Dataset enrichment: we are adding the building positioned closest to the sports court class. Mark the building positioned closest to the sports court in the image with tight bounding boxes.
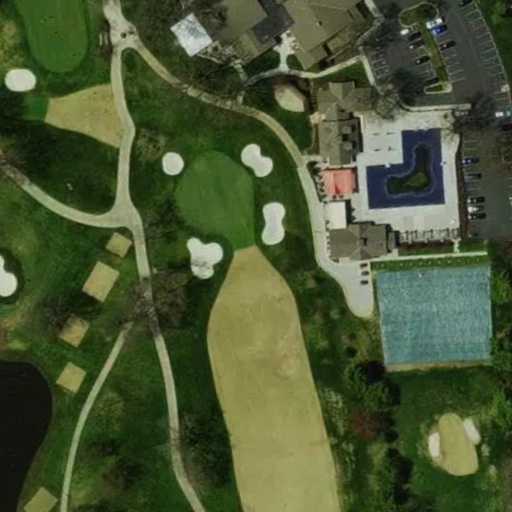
[330,223,395,259]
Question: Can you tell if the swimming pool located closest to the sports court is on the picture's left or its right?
right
